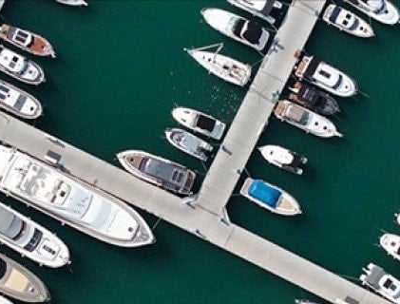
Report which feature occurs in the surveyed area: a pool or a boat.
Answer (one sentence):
I can see a boat in this picture.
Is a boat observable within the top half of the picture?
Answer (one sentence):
Yes, a boat can be seen within the top half of the picture.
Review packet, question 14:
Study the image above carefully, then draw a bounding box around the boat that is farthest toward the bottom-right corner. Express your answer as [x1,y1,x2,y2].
[364,266,400,304]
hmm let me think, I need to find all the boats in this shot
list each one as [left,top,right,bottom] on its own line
[364,266,400,304]
[183,47,255,85]
[0,141,172,262]
[169,108,231,139]
[323,3,381,42]
[291,52,360,101]
[199,6,277,51]
[338,0,400,24]
[0,200,74,265]
[372,235,400,263]
[114,149,212,203]
[0,77,46,117]
[0,251,55,302]
[0,20,59,62]
[257,144,308,175]
[0,47,47,85]
[235,174,309,220]
[272,100,343,141]
[281,76,342,115]
[163,128,212,165]
[57,0,95,6]
[227,0,289,29]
